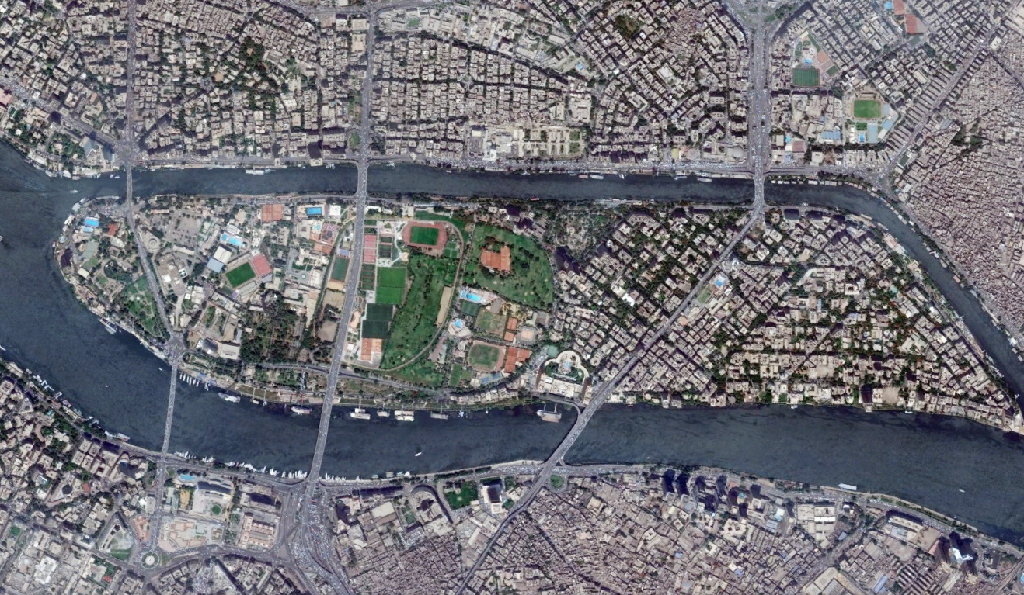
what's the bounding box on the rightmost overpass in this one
[456,116,764,595]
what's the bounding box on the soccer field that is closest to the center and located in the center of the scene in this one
[476,308,506,337]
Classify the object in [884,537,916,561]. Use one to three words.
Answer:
shed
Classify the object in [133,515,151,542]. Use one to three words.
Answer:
building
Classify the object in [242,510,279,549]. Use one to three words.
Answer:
building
